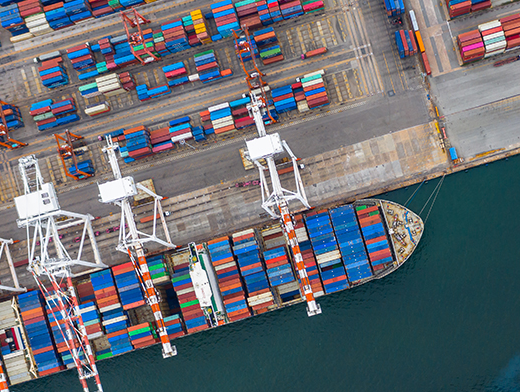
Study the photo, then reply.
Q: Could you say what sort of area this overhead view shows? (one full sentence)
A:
What you see here is a port.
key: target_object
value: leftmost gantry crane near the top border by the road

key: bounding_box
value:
[121,5,162,66]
